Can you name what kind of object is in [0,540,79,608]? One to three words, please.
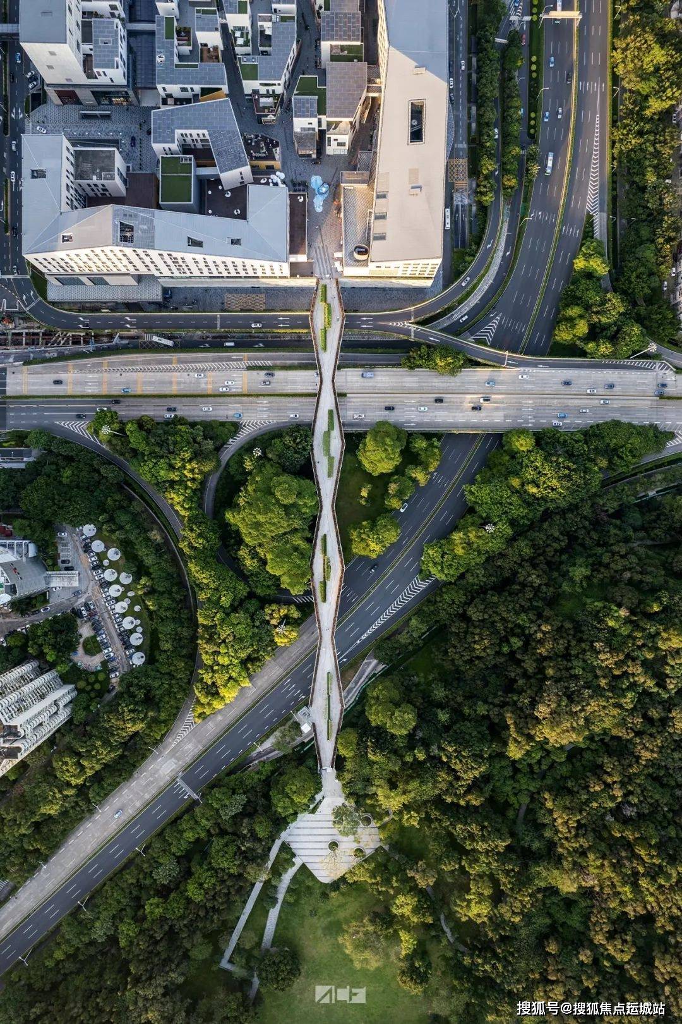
building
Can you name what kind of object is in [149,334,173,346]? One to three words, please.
vehicle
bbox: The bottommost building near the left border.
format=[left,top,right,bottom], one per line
[0,657,77,759]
